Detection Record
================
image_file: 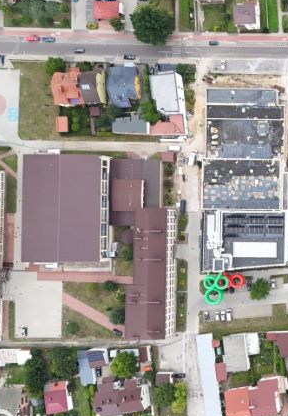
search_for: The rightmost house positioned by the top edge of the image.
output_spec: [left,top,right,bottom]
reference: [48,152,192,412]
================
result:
[233,0,259,28]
